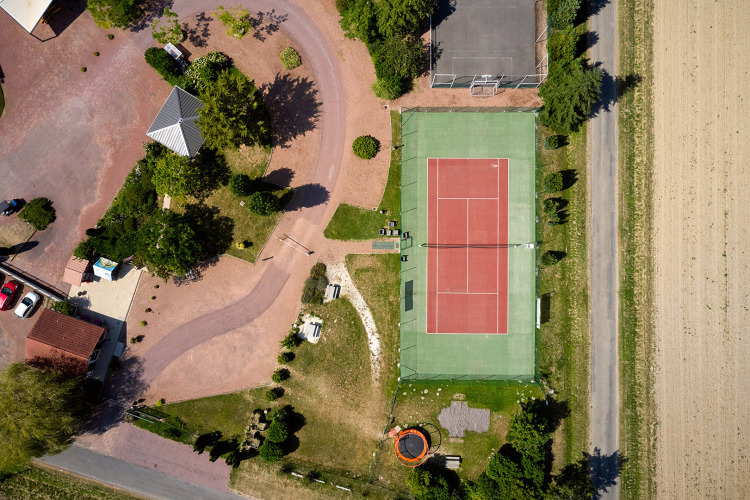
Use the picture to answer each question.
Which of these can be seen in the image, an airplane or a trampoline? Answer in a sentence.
Looking from above, you can make out a trampoline.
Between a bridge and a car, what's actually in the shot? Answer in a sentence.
Looking from above, you can make out a car.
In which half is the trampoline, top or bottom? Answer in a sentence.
The trampoline sits in the bottom half of the picture.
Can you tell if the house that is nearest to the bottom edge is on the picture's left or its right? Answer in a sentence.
You can find the house that is nearest to the bottom edge on the left side of the picture.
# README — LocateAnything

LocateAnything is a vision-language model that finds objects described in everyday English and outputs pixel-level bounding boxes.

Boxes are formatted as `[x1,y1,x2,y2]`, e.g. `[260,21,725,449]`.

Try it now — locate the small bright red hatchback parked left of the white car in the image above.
[0,279,23,309]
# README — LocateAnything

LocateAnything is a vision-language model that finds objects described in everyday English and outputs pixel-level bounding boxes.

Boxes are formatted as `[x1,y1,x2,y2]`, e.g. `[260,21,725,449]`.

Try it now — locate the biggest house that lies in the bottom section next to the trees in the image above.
[25,307,110,384]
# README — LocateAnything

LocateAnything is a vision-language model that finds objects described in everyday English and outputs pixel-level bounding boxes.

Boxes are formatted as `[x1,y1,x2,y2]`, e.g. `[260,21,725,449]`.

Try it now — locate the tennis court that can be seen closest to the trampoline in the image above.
[399,111,536,380]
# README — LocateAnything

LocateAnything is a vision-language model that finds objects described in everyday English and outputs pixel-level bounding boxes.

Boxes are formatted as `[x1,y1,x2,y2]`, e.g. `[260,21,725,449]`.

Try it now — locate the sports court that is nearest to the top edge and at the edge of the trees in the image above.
[431,0,535,89]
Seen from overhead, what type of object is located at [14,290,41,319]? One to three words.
car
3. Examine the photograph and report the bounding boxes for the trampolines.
[395,426,428,466]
